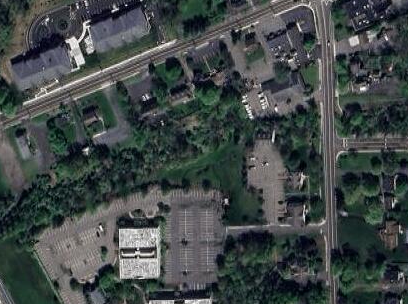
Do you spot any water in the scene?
No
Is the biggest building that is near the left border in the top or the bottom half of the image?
top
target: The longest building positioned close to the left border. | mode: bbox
[10,45,72,90]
